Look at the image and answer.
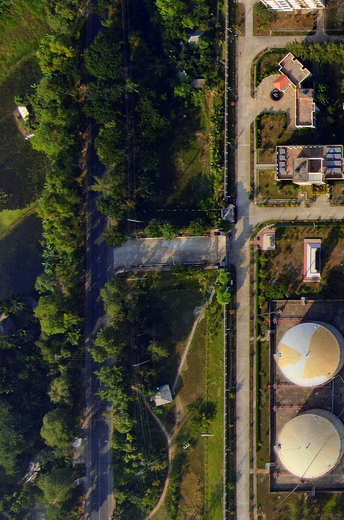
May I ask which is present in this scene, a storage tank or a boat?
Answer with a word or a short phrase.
storage tank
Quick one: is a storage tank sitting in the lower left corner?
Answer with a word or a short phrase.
No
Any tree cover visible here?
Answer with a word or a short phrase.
Yes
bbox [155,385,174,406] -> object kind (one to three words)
shed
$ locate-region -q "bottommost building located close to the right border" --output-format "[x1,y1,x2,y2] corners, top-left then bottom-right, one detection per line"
[276,146,344,184]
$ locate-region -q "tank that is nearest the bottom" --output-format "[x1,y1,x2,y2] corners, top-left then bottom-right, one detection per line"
[276,409,344,479]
